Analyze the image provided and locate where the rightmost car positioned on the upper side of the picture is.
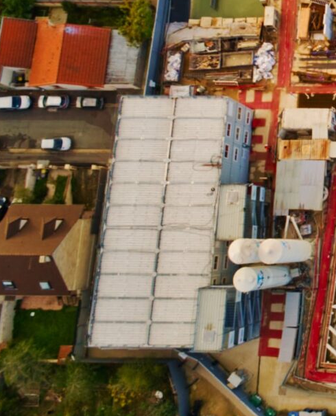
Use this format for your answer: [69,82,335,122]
[72,94,103,109]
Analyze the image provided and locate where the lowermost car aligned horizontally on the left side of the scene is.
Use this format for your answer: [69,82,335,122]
[37,136,70,151]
